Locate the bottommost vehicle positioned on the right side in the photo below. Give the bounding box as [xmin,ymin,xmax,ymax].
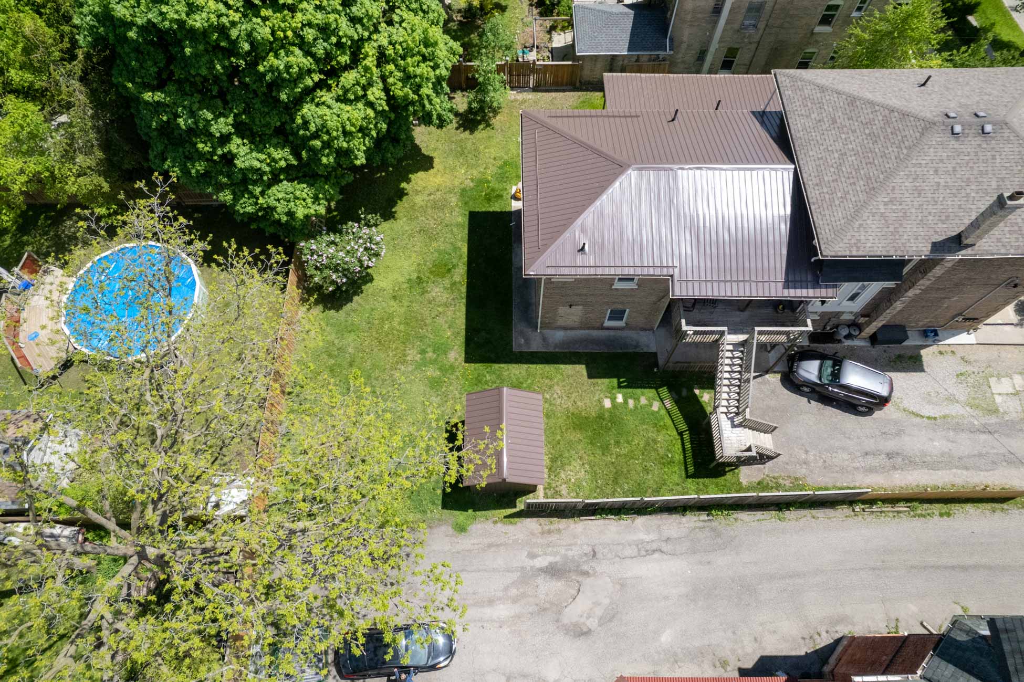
[788,352,892,414]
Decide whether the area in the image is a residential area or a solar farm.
residential area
